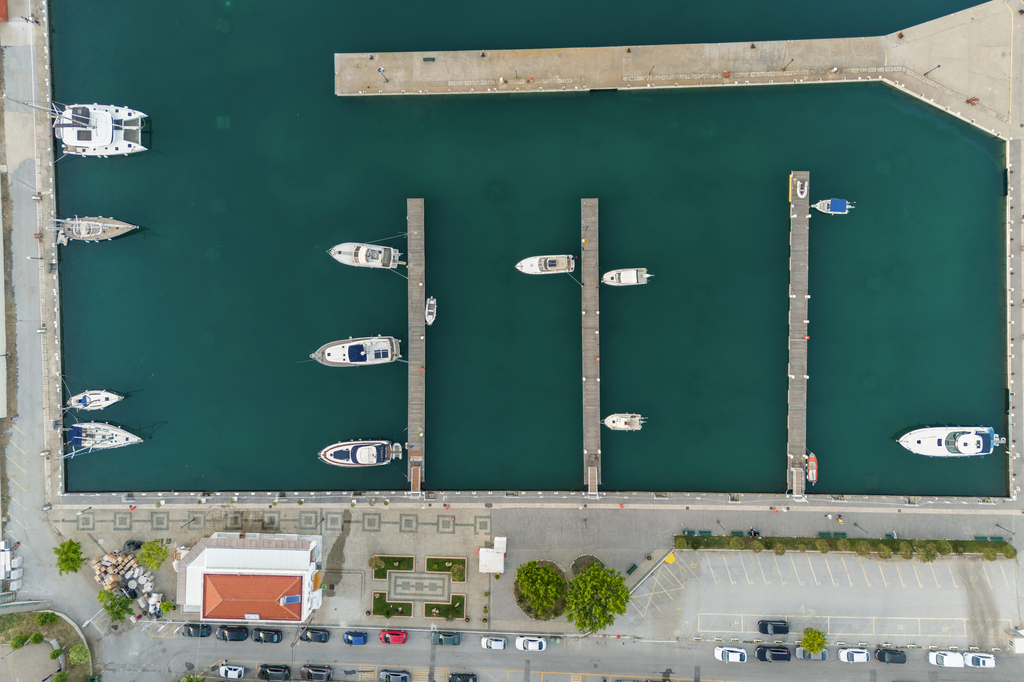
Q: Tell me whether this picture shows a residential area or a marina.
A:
marina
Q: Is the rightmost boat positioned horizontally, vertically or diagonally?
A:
horizontally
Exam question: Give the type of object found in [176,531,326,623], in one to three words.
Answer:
building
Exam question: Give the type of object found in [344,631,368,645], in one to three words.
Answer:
car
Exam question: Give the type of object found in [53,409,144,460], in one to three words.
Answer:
boat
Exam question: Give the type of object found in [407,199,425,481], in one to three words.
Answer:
pier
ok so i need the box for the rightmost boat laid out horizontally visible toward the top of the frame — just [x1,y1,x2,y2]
[806,198,856,215]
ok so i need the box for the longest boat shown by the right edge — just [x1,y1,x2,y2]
[895,414,1008,459]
